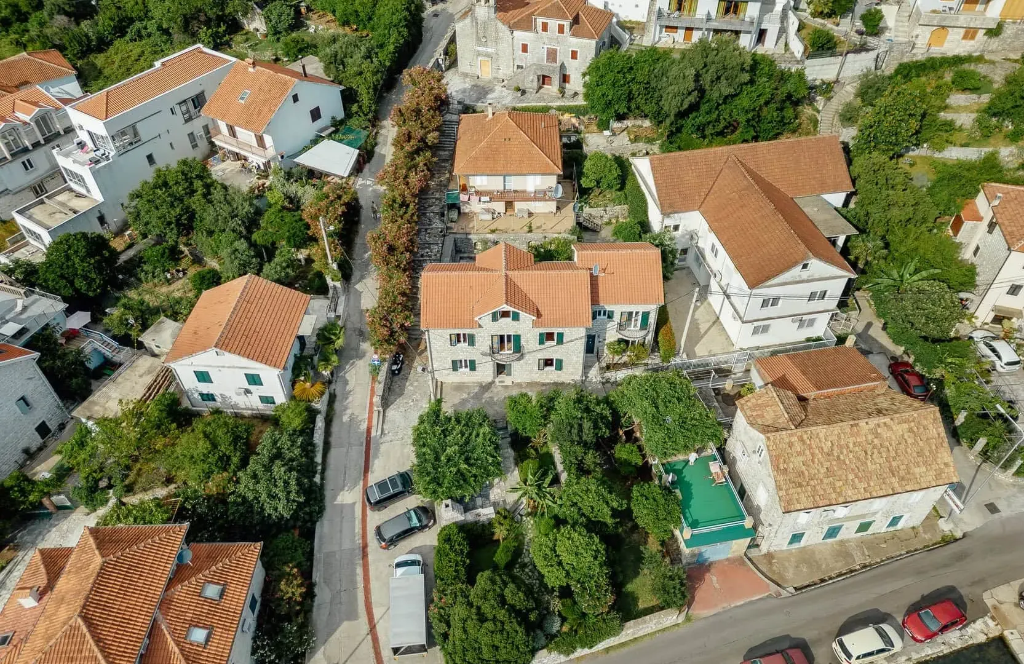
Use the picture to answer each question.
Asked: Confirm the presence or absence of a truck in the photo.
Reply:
Yes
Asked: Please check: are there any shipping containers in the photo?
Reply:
No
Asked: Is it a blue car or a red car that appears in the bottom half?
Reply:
red car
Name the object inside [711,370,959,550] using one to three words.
house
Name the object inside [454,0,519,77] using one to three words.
building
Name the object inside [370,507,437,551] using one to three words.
car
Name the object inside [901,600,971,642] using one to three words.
car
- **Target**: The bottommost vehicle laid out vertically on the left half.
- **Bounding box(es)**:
[387,554,428,658]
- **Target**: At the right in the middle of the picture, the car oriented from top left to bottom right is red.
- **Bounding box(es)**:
[888,358,934,404]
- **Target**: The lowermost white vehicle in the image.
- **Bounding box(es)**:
[830,623,905,664]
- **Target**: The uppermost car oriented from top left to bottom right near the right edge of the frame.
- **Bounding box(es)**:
[970,329,1024,376]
